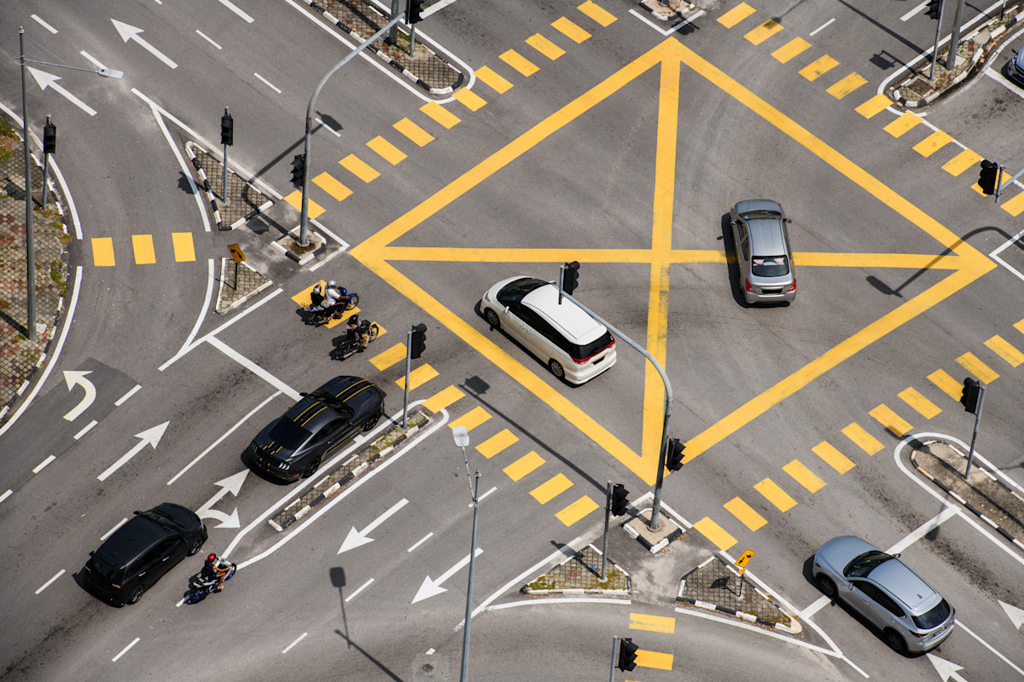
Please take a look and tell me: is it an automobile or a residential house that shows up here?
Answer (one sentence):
It is an automobile that can be seen here.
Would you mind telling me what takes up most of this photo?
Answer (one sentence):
The bulk of the photo consists of paved ground.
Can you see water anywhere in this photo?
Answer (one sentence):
No, the scene doesn't show any water.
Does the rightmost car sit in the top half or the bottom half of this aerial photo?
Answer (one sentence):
The rightmost car sits in the top half of the picture.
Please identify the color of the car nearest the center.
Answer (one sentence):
From above, the car nearest the center appears white.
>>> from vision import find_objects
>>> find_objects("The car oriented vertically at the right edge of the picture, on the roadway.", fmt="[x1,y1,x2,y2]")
[1002,36,1024,83]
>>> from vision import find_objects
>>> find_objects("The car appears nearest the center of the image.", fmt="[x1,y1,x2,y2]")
[479,272,619,385]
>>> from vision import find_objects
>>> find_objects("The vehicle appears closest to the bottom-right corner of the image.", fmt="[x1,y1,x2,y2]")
[816,539,960,656]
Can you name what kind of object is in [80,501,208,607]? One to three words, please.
car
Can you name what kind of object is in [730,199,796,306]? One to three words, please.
car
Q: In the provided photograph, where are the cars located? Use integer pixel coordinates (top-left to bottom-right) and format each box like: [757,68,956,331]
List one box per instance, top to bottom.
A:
[1002,36,1024,83]
[730,199,796,306]
[479,272,619,385]
[246,374,387,485]
[80,501,208,607]
[816,539,960,656]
